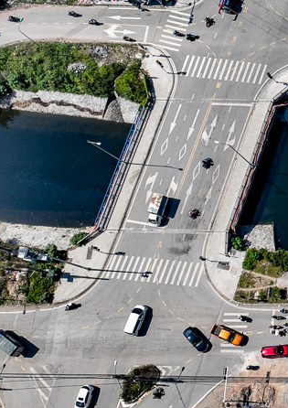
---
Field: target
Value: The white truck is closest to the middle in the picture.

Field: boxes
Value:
[147,191,168,227]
